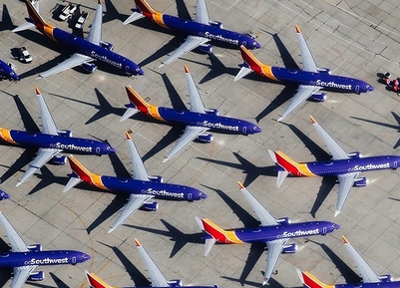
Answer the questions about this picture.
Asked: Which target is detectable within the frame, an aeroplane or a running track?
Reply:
aeroplane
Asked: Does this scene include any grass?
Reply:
No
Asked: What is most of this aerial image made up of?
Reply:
paved ground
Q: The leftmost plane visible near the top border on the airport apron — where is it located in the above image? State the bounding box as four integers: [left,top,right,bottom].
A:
[11,0,144,80]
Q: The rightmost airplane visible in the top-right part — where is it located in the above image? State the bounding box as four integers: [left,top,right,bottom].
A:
[233,25,374,121]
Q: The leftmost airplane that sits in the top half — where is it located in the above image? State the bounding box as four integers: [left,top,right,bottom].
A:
[0,61,18,80]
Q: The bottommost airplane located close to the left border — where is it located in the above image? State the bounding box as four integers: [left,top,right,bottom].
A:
[0,210,90,288]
